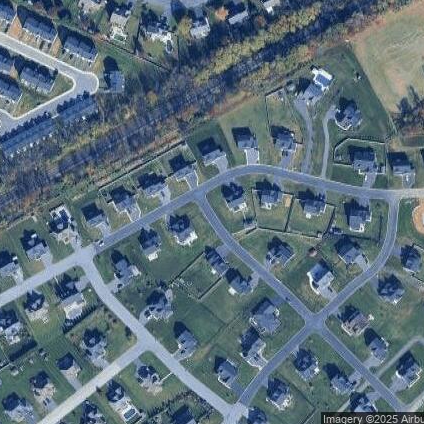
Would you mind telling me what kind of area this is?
residential area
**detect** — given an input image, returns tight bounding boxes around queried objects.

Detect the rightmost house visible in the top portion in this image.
[393,158,414,177]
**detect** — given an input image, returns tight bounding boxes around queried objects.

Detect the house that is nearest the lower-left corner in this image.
[5,402,33,424]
